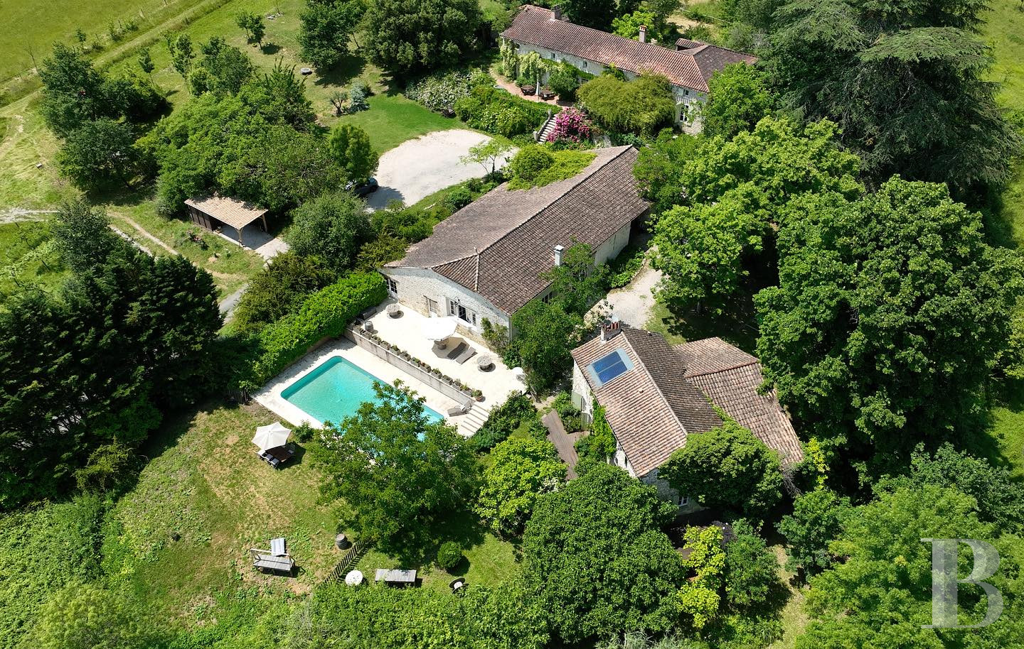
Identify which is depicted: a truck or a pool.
pool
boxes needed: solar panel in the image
[586,346,635,384]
